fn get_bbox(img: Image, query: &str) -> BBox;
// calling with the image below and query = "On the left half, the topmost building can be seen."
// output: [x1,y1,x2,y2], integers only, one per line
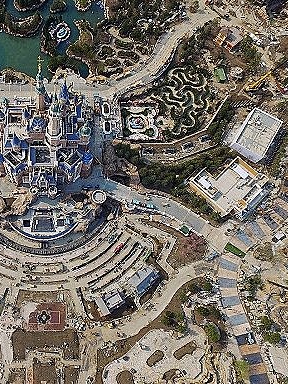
[0,62,95,199]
